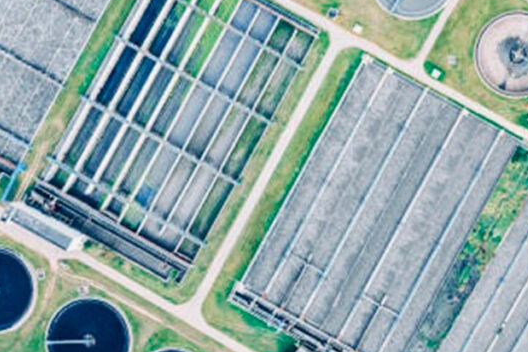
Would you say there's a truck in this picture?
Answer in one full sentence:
No, the photo shows no truck.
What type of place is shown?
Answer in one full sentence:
What you see here is an industrial area.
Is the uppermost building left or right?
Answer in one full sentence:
The uppermost building appears in the left half of the scene.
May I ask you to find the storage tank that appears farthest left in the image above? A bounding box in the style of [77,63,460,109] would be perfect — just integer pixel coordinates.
[0,246,37,332]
